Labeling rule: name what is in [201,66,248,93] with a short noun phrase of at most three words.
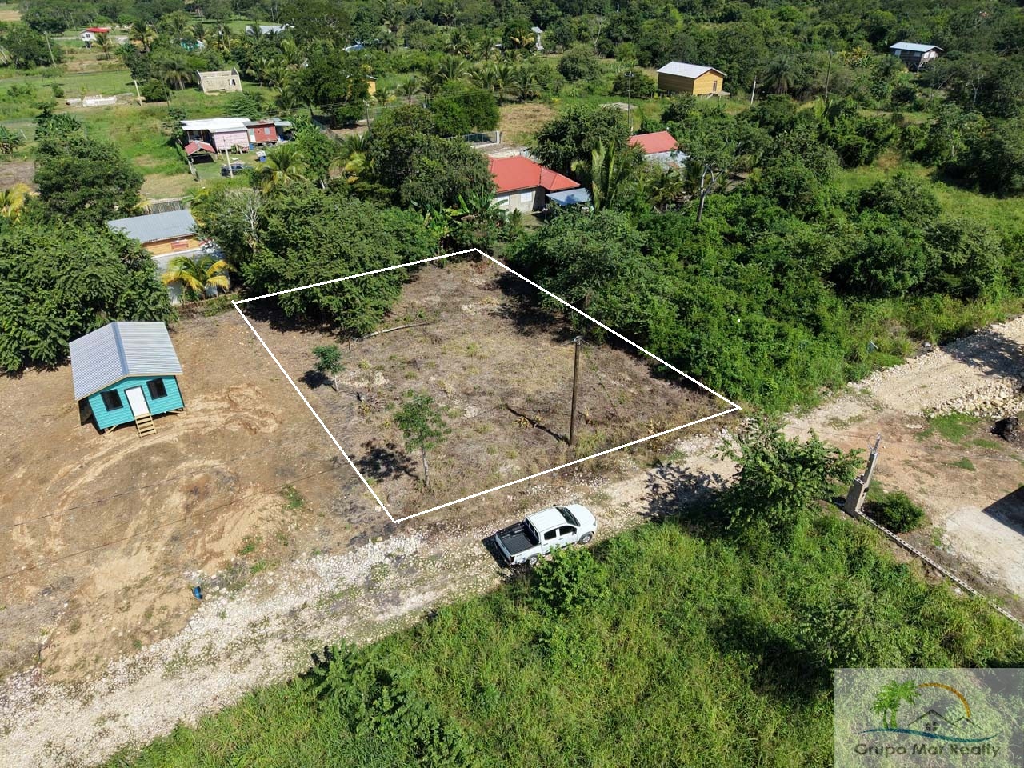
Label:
house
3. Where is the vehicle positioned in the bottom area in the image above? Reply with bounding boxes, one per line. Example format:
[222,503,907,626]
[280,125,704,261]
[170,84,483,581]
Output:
[491,506,601,569]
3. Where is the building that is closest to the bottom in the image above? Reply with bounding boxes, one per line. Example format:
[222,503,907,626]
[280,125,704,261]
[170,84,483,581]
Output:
[70,325,188,440]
